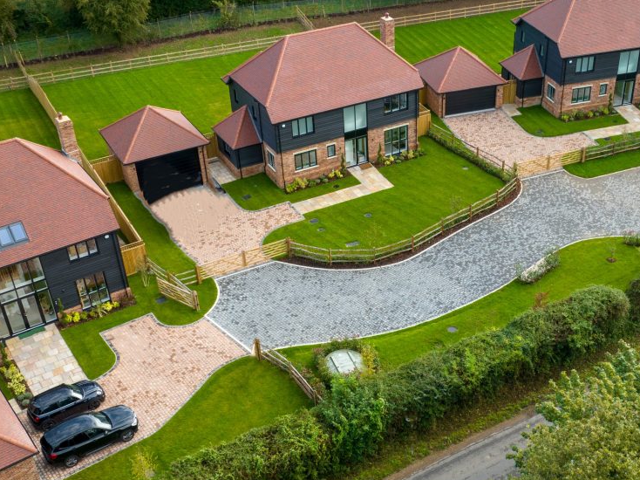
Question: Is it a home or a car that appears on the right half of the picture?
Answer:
home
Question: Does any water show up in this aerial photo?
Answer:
No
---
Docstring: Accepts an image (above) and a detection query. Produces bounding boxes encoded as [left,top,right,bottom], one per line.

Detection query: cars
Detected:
[17,377,106,431]
[37,405,139,470]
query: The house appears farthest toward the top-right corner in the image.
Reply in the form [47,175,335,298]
[499,0,640,117]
